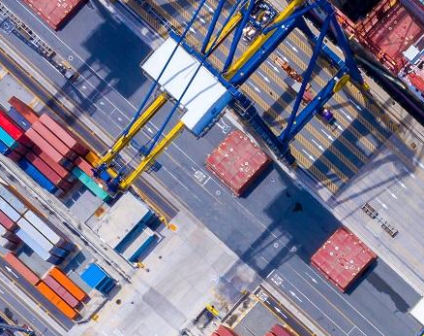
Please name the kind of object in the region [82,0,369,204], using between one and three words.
container crane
